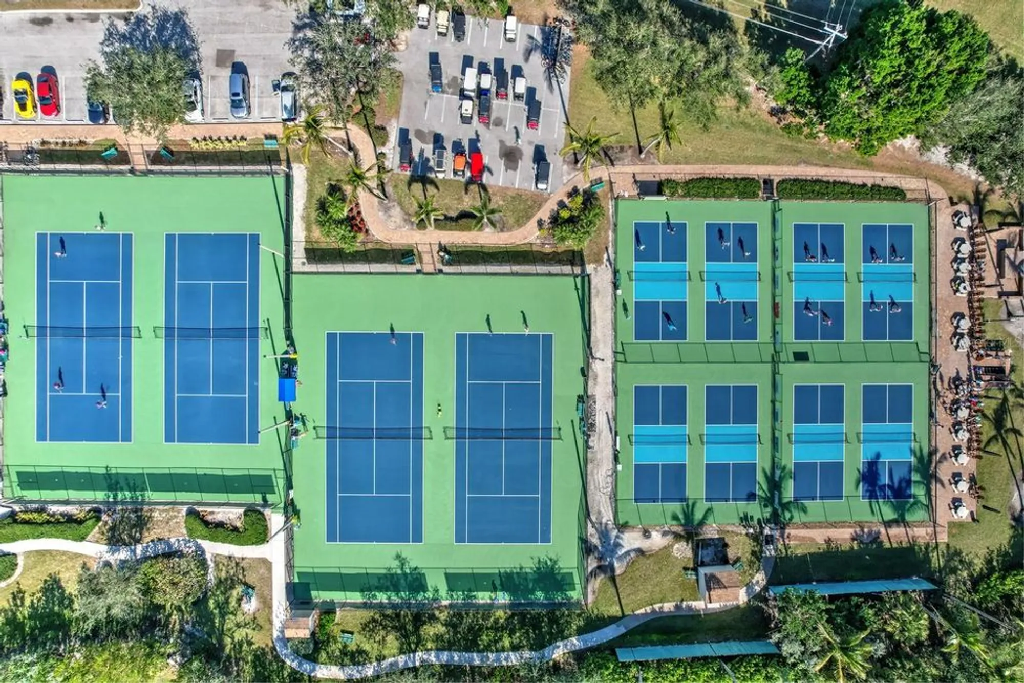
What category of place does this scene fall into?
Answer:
sports ground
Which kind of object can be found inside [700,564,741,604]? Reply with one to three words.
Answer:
shed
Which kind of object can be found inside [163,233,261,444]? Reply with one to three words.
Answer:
tennis court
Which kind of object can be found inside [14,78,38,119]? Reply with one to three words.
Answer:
car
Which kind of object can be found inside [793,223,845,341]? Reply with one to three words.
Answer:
sports court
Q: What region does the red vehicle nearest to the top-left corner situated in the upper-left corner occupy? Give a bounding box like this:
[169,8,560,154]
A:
[38,75,62,116]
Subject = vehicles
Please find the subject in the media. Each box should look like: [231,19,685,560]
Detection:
[471,154,483,182]
[505,16,516,44]
[453,13,466,43]
[514,77,526,104]
[38,75,62,116]
[434,151,447,179]
[478,97,490,126]
[430,67,443,94]
[14,78,38,119]
[536,161,549,191]
[86,85,109,125]
[453,153,466,178]
[461,100,473,127]
[417,3,431,31]
[480,73,491,98]
[399,145,413,172]
[496,74,508,101]
[228,74,250,117]
[437,10,450,38]
[527,101,540,131]
[463,68,476,100]
[185,80,205,122]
